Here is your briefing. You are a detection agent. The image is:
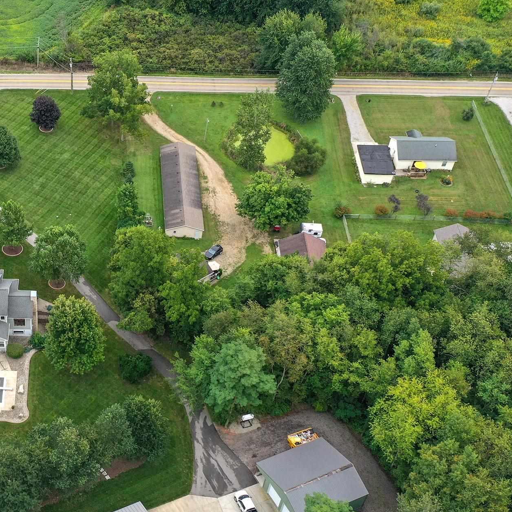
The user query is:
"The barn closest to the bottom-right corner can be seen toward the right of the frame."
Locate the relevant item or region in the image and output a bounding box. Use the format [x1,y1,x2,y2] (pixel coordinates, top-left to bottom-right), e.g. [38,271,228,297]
[255,438,368,512]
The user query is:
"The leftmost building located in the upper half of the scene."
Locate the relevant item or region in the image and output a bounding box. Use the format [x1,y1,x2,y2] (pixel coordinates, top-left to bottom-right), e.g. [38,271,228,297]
[160,139,204,240]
